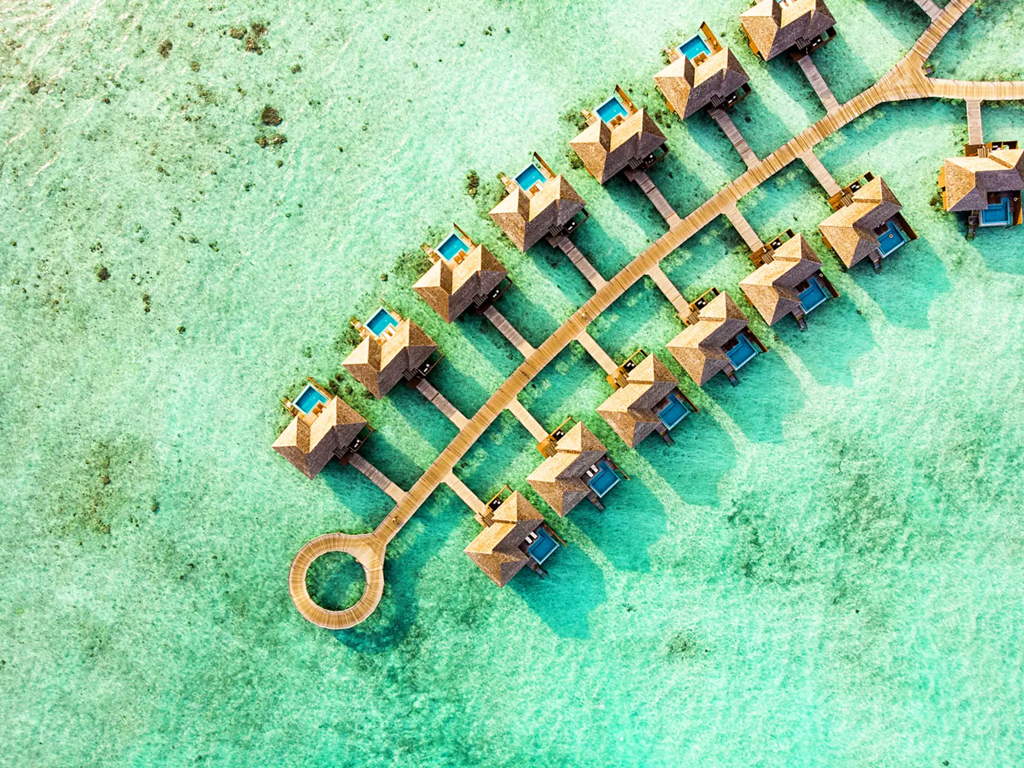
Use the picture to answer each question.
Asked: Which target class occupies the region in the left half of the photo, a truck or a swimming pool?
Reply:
swimming pool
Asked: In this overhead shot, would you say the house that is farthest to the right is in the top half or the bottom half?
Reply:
top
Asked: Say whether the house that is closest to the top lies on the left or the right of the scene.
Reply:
right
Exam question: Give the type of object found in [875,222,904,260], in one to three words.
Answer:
swimming pool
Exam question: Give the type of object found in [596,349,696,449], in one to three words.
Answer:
house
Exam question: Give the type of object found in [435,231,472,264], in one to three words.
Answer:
swimming pool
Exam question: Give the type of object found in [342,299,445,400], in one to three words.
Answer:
house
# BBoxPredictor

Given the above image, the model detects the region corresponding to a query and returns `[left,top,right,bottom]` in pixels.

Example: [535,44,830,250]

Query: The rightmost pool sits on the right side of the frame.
[971,201,1007,230]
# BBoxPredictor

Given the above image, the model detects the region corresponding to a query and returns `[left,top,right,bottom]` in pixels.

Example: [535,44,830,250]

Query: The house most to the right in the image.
[928,141,1024,245]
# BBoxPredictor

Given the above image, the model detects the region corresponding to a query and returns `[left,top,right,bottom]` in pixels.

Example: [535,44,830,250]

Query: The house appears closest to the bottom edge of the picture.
[464,482,565,587]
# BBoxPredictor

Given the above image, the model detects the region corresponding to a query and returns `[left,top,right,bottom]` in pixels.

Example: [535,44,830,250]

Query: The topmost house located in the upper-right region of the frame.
[736,0,837,74]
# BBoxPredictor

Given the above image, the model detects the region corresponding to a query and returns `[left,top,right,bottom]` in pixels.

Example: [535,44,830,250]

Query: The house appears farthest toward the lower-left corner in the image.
[272,378,378,480]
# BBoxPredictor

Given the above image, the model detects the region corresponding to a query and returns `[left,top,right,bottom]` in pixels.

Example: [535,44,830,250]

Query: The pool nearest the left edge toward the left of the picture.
[294,382,331,416]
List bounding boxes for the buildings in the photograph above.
[272,378,378,480]
[412,225,513,325]
[526,416,627,517]
[734,228,836,333]
[928,141,1024,245]
[809,171,914,278]
[736,0,837,74]
[489,154,589,254]
[342,299,445,400]
[596,349,696,449]
[464,482,565,587]
[569,88,669,189]
[653,26,751,128]
[665,287,765,387]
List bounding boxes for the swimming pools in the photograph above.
[512,161,549,194]
[294,382,331,416]
[674,34,712,63]
[797,278,828,315]
[875,222,904,260]
[435,231,472,264]
[656,393,689,429]
[365,304,402,337]
[592,96,629,126]
[725,334,758,370]
[588,459,621,496]
[528,525,561,562]
[971,201,1007,230]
